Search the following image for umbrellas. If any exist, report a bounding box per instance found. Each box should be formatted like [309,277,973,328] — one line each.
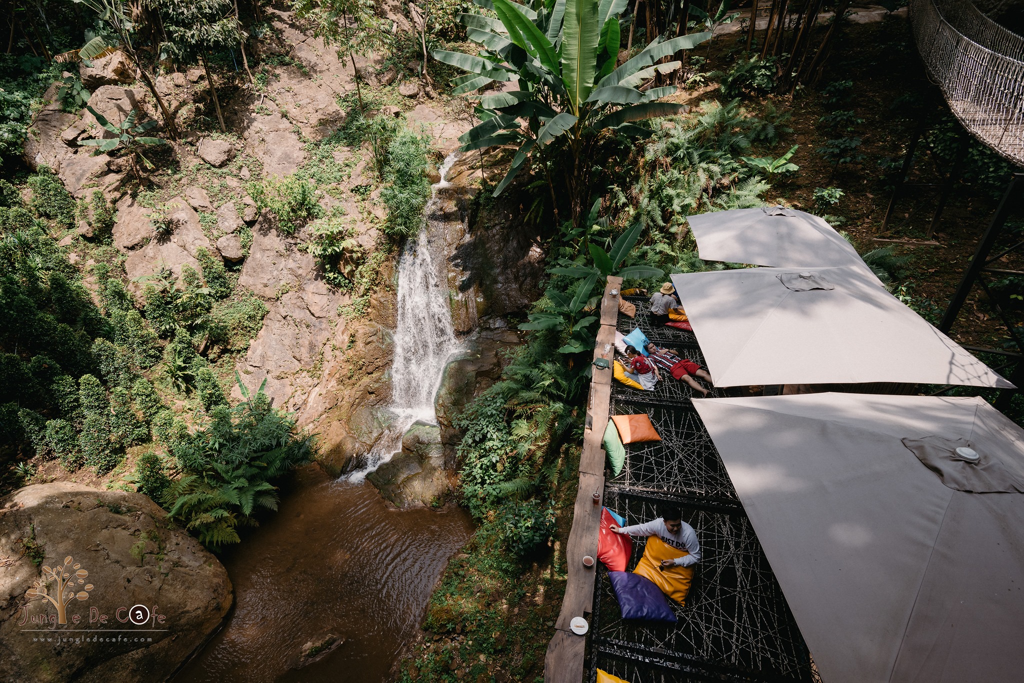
[690,396,1024,683]
[685,202,895,284]
[669,266,1017,398]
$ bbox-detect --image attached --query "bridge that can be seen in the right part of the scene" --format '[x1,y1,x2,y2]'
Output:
[907,0,1024,209]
